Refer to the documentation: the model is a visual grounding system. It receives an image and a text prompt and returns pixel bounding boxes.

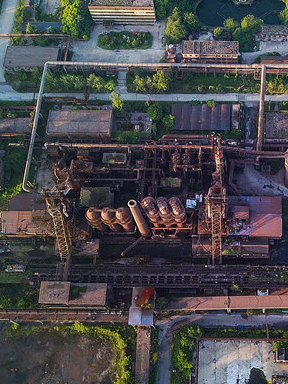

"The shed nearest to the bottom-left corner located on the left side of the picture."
[38,282,73,308]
